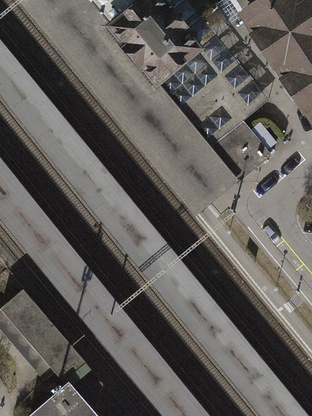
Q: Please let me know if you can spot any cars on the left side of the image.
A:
No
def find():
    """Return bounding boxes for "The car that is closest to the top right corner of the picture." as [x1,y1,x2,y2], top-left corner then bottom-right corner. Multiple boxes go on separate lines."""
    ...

[297,112,312,130]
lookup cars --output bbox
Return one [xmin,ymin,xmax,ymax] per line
[302,224,312,233]
[262,222,282,244]
[297,112,312,130]
[281,153,302,172]
[256,174,278,194]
